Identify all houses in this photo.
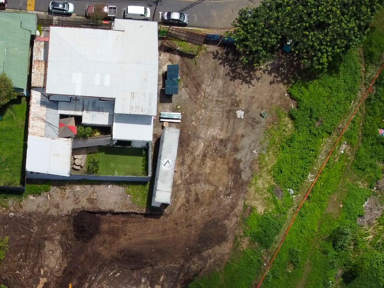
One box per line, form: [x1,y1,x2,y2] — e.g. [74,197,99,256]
[26,19,158,176]
[0,12,37,97]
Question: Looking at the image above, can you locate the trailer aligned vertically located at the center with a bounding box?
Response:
[152,128,179,206]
